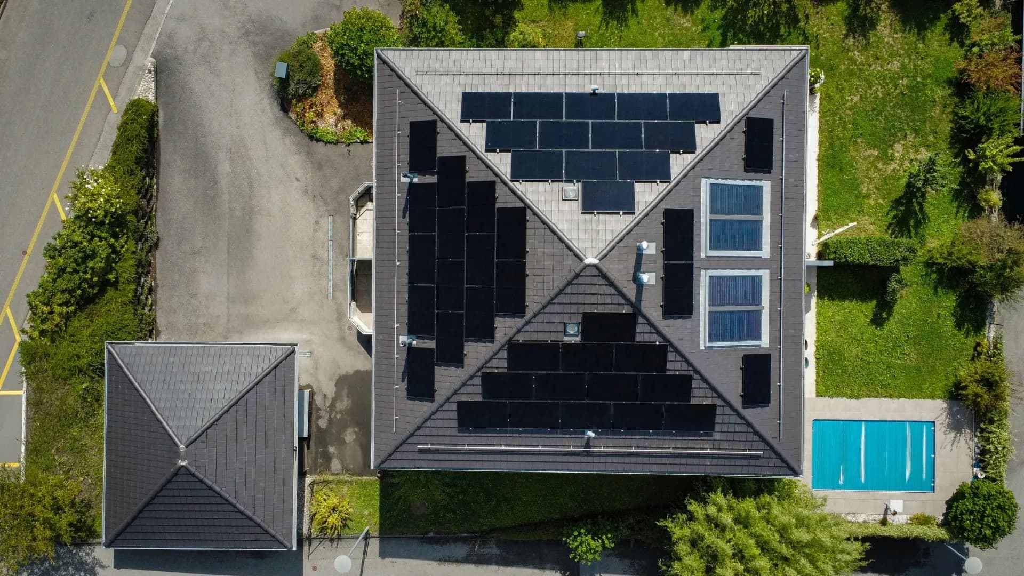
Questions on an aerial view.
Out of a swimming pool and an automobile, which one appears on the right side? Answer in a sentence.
You can see a swimming pool on the right side.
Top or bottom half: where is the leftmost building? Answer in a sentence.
Seen from above, the leftmost building lies in the bottom half of the view.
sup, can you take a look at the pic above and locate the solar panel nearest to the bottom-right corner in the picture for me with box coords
[743,354,770,406]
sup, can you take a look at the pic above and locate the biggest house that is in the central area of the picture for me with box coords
[348,46,809,478]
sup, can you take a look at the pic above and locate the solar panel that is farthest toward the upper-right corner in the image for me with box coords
[744,117,772,171]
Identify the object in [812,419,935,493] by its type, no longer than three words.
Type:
swimming pool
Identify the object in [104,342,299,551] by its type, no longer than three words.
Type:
building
